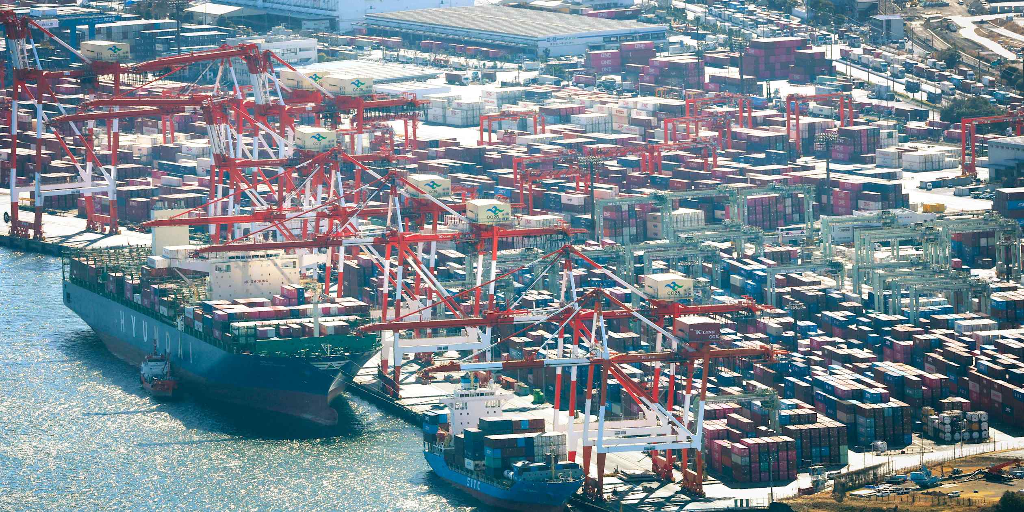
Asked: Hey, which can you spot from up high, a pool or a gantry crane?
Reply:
gantry crane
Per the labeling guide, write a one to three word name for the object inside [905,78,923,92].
vehicle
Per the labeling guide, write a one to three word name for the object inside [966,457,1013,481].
crane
